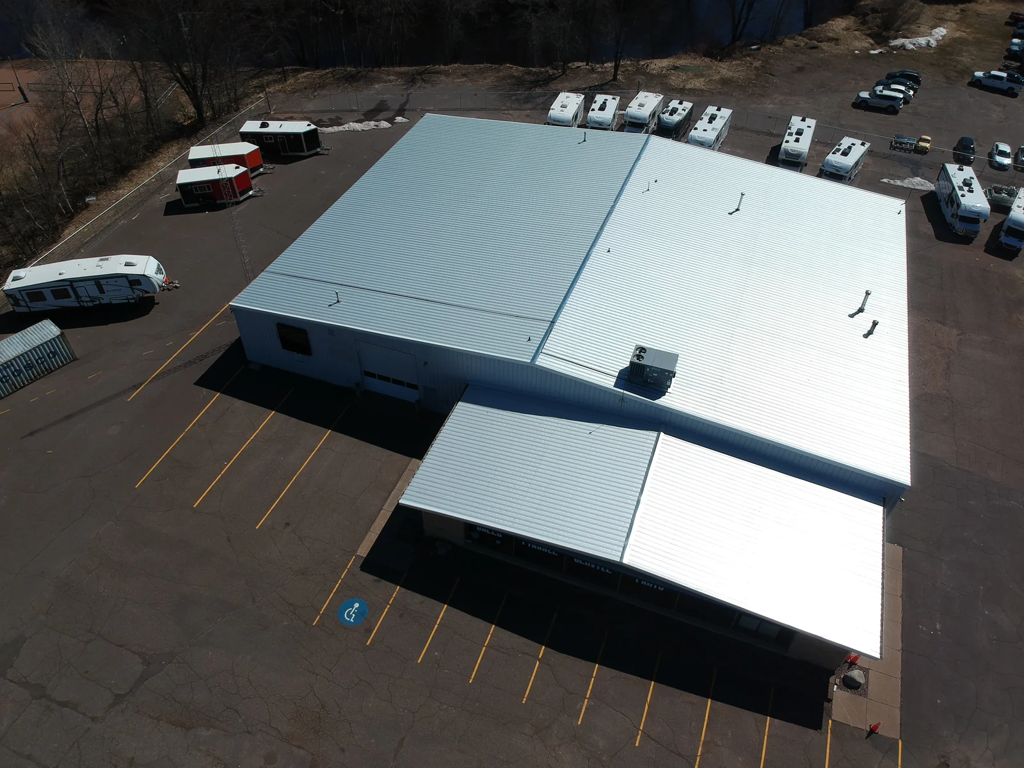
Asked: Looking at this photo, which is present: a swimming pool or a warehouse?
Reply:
warehouse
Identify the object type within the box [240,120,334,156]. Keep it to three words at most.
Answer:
trailer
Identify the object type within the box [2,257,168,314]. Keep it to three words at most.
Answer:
vehicle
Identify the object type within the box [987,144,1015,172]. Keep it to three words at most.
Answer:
car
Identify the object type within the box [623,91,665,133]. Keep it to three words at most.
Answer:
camper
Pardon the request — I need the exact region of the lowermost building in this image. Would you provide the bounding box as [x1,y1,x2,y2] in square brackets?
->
[396,381,885,669]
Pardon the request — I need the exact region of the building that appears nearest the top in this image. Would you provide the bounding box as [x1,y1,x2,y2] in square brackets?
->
[228,113,916,522]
